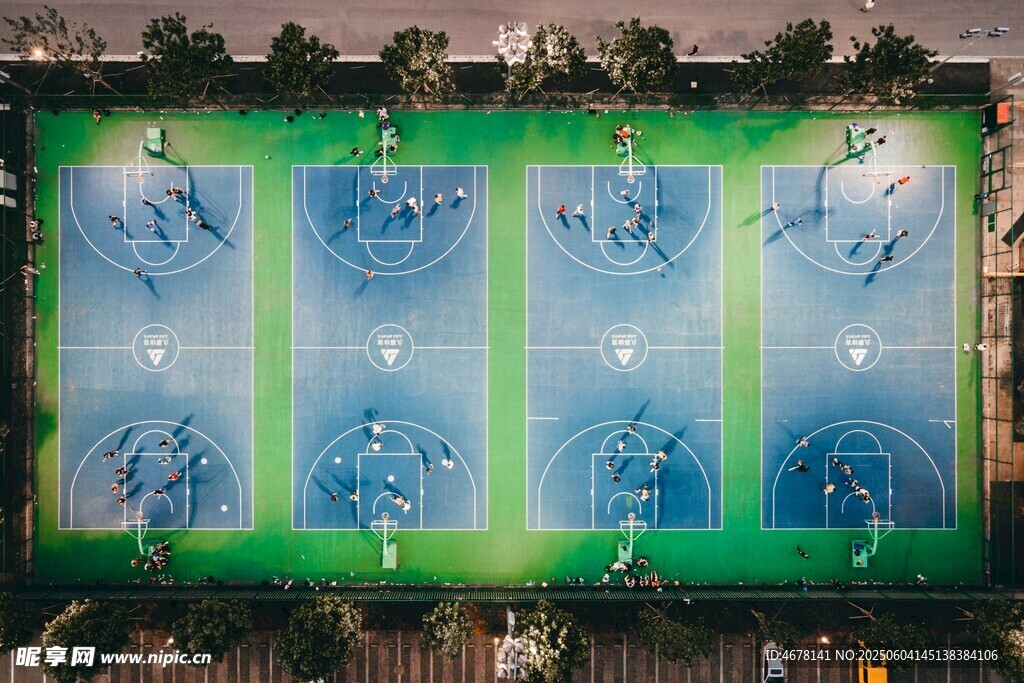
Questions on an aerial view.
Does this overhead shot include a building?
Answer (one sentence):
No, there is no building in the image.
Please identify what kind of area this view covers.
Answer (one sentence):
The picture captures a sports ground.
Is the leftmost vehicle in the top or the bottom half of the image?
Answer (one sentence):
The leftmost vehicle is in the bottom half of the image.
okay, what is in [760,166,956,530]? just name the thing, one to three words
basketball court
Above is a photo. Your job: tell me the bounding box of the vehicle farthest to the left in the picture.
[759,644,788,683]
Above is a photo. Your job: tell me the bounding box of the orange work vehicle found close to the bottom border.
[861,639,893,683]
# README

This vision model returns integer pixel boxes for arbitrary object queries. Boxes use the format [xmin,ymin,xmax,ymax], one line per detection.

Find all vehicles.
[759,644,788,683]
[861,639,893,683]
